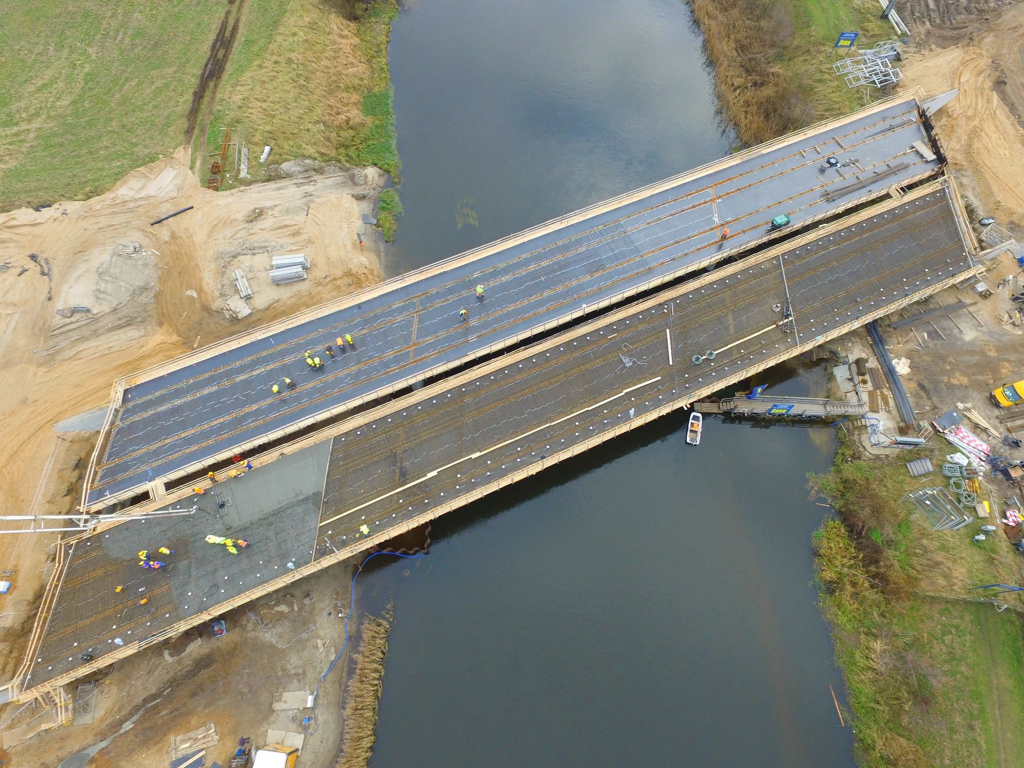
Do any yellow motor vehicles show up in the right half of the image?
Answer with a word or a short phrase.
Yes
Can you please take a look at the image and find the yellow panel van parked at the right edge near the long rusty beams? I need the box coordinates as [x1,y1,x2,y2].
[989,382,1024,412]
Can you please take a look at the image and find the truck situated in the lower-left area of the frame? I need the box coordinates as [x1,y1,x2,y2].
[252,736,296,768]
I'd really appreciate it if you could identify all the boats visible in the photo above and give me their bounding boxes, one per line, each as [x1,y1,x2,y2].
[685,411,703,449]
